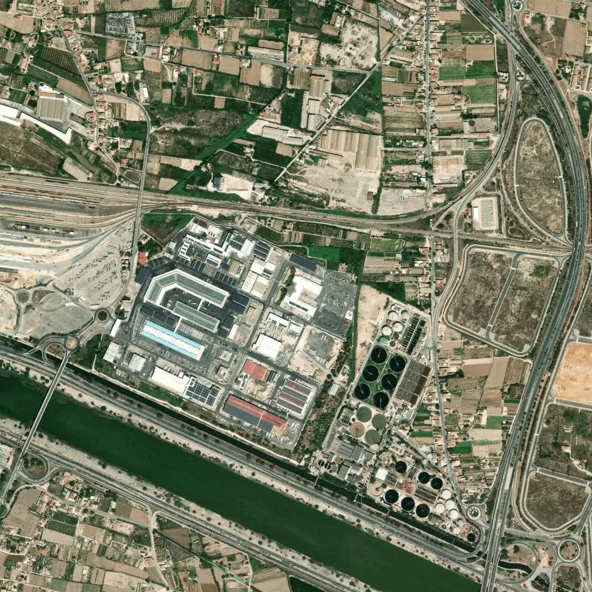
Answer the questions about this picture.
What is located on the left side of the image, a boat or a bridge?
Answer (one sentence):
Looking on the left side of the image, you will find a bridge.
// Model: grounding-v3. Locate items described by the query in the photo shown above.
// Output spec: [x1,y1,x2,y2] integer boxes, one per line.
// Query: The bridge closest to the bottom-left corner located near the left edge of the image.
[11,337,74,484]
